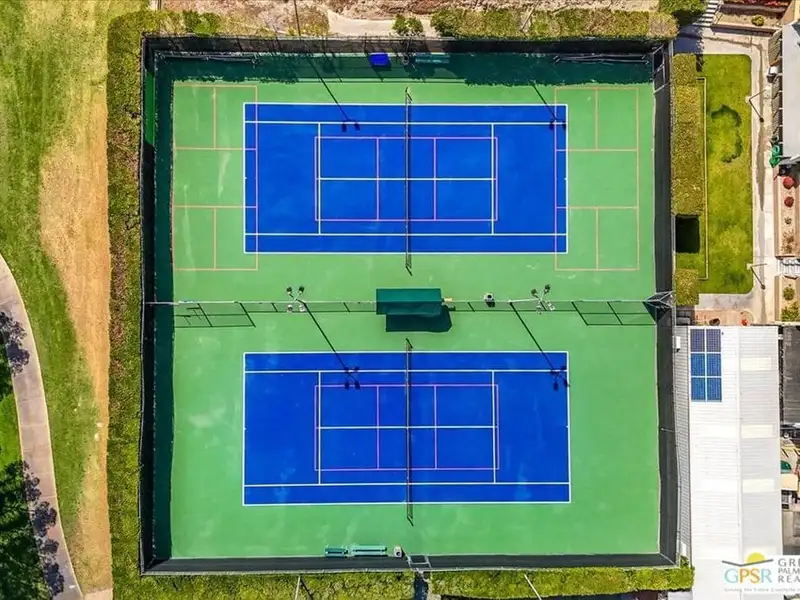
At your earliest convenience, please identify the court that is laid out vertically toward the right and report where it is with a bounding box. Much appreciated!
[555,87,639,270]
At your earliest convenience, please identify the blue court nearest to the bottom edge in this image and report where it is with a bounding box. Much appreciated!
[243,352,570,505]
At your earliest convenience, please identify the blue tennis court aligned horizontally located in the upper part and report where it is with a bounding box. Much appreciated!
[244,103,568,253]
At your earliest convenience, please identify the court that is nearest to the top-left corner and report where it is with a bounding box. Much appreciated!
[171,84,258,270]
